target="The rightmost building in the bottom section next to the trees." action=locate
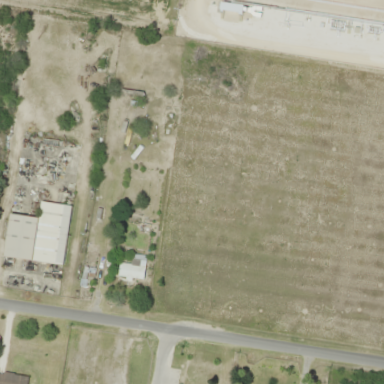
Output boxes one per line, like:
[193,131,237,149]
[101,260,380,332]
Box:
[118,254,147,282]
